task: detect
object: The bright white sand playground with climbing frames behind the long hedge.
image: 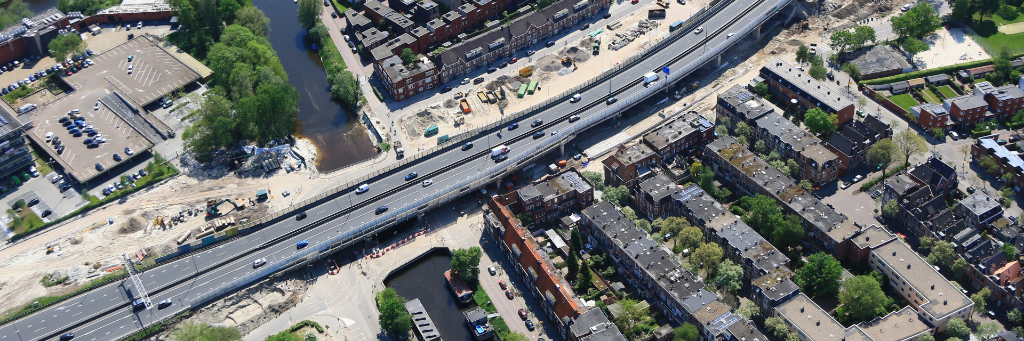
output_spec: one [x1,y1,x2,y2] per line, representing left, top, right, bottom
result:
[915,27,989,65]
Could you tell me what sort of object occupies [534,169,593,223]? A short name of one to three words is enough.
building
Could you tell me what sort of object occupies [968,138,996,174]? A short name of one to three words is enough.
house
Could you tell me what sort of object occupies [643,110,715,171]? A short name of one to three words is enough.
building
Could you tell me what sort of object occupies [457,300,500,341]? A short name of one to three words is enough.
boat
